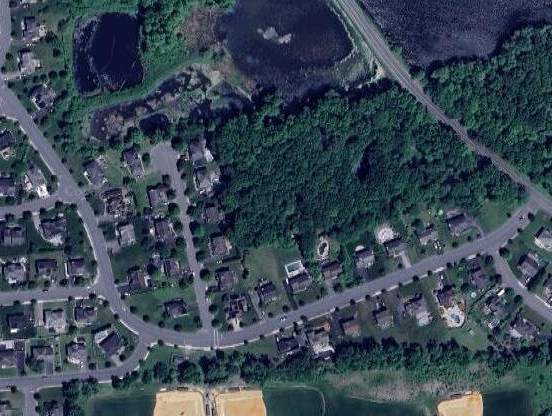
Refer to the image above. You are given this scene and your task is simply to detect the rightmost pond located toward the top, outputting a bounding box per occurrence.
[217,0,357,99]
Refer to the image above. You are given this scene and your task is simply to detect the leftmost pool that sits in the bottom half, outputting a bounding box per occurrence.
[284,260,303,275]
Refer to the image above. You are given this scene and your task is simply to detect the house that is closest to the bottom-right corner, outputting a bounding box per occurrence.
[509,317,539,343]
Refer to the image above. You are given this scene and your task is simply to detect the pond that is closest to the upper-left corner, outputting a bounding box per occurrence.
[72,12,142,95]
